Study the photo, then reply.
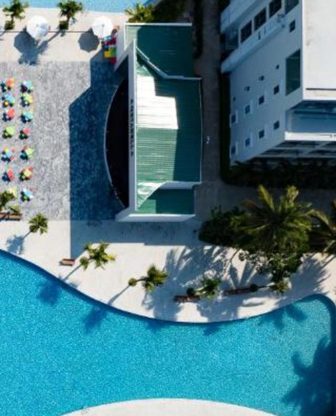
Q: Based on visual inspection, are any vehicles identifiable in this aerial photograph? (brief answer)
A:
No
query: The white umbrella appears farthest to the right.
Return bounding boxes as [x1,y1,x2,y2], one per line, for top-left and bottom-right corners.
[93,17,114,38]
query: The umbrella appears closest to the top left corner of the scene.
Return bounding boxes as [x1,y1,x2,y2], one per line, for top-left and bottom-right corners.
[27,18,48,39]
